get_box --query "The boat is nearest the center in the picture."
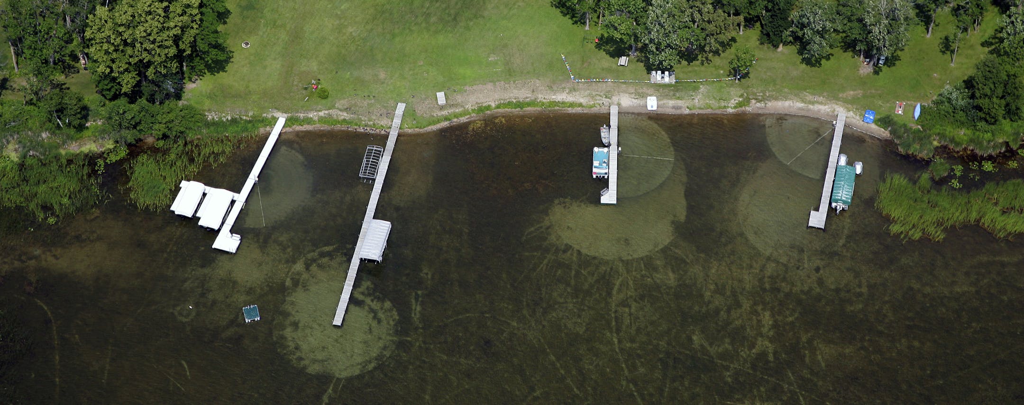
[593,146,608,183]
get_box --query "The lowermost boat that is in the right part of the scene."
[831,202,848,215]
